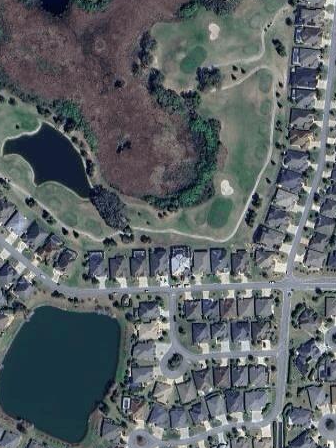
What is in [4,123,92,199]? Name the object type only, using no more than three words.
pond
